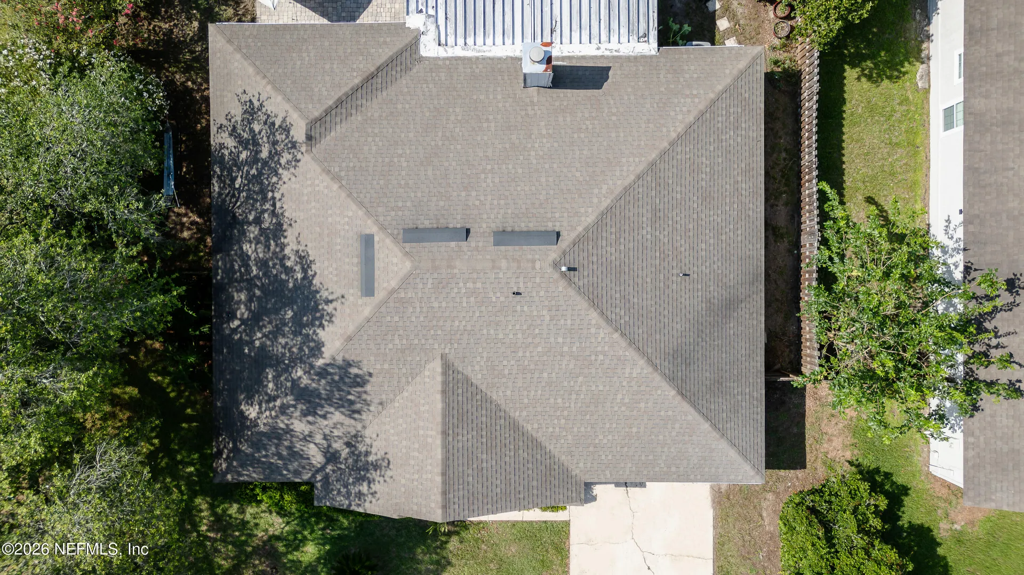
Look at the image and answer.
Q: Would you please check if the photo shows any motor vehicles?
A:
No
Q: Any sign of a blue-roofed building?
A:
No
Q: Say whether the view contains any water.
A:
No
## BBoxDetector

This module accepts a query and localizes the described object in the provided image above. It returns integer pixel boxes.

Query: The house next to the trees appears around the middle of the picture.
[208,20,765,521]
